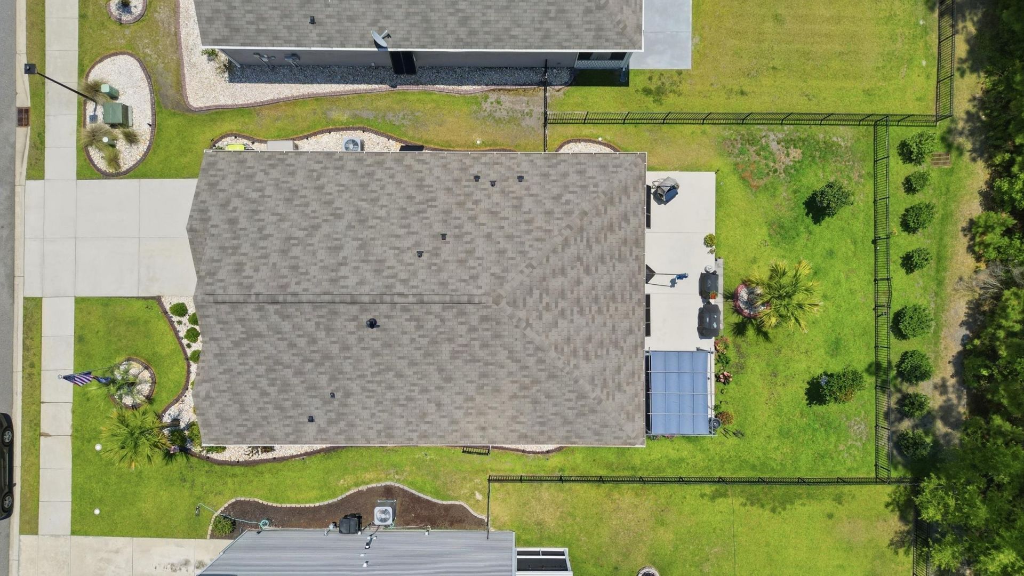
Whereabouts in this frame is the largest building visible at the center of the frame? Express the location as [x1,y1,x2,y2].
[187,143,656,448]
